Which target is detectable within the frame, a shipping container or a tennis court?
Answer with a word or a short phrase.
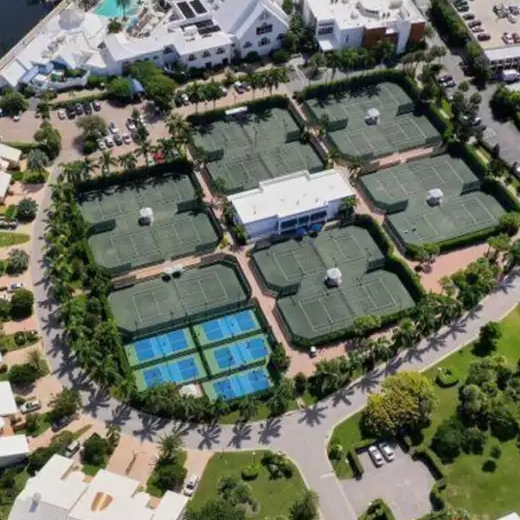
tennis court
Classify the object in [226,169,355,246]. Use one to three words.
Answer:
building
